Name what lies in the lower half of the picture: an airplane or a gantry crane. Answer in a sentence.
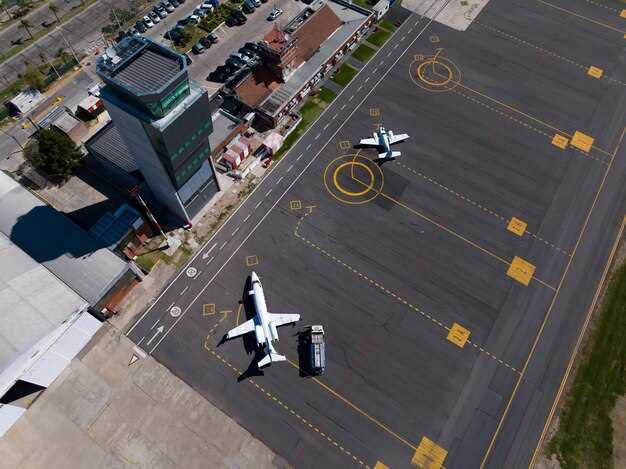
Looking in the lower half of the picture, you will find an airplane.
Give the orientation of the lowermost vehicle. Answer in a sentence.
The lowermost vehicle is oriented up and down.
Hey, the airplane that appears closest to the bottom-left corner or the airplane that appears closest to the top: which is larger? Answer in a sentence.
The airplane that appears closest to the bottom-left corner takes up more space than the airplane that appears closest to the top does.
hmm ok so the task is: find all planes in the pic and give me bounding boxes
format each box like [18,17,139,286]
[362,128,411,163]
[226,272,301,369]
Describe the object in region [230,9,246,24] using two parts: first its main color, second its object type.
black car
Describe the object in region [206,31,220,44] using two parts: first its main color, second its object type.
gray vehicle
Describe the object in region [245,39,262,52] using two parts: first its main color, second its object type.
black vehicle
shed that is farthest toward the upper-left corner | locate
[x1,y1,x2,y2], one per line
[10,87,47,119]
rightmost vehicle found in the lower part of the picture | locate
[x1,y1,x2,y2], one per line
[307,326,327,378]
